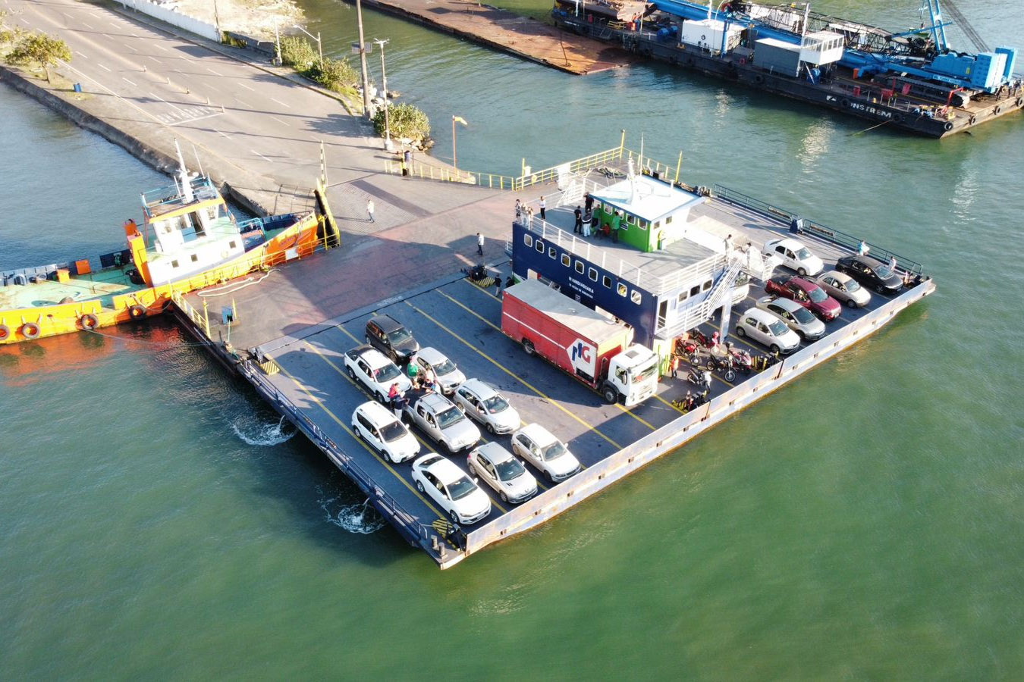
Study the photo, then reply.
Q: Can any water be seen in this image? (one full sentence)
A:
Yes, some water is visible.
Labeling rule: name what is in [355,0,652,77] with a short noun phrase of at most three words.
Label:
ship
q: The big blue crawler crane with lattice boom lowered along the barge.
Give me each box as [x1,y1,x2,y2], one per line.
[718,0,1024,108]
